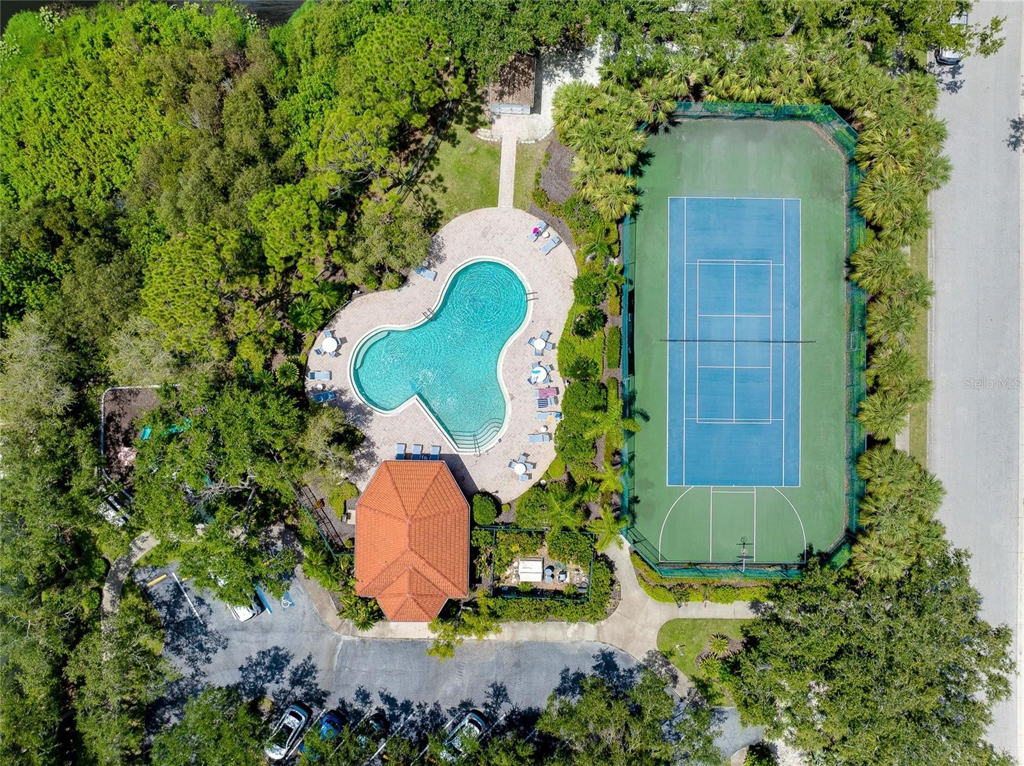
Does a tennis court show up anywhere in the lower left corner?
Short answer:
No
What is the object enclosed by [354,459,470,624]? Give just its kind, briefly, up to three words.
building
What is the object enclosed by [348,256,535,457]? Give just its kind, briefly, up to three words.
swimming pool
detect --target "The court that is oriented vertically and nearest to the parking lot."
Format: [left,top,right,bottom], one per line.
[629,118,847,570]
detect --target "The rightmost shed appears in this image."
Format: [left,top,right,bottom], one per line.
[489,47,533,114]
